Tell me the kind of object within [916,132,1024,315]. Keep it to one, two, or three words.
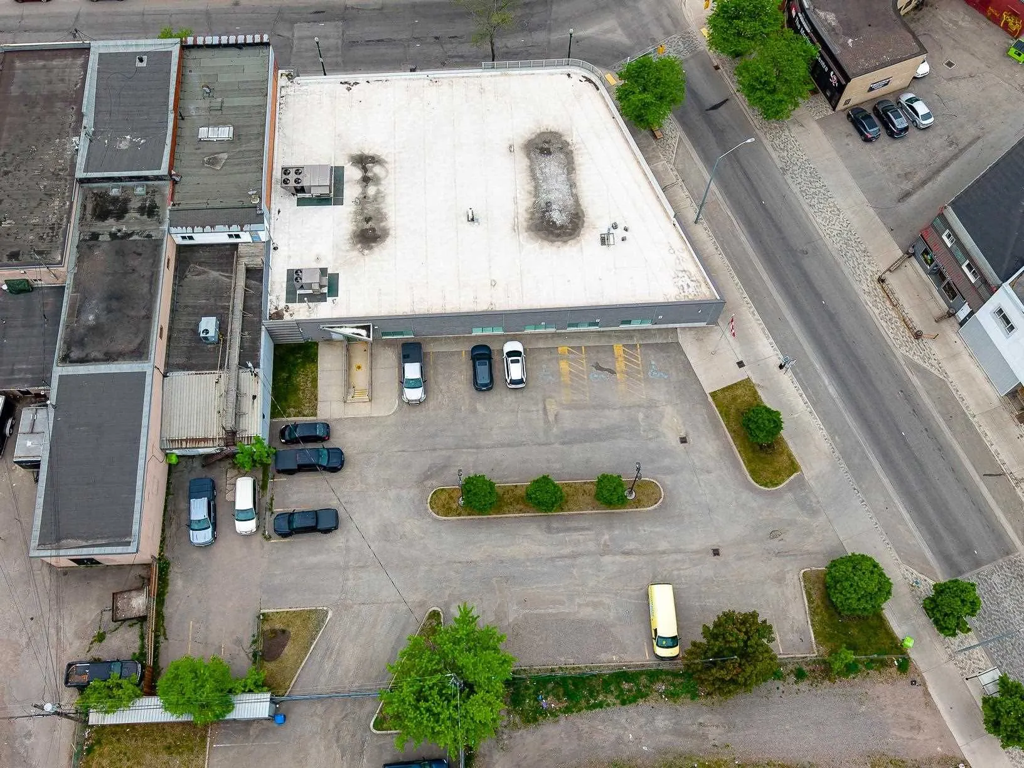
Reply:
building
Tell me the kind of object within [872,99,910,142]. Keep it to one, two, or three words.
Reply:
car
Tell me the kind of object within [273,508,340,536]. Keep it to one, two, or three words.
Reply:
truck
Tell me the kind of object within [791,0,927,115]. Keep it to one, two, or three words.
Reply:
building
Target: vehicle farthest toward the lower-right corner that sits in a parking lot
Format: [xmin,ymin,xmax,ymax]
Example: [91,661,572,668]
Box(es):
[648,583,681,660]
